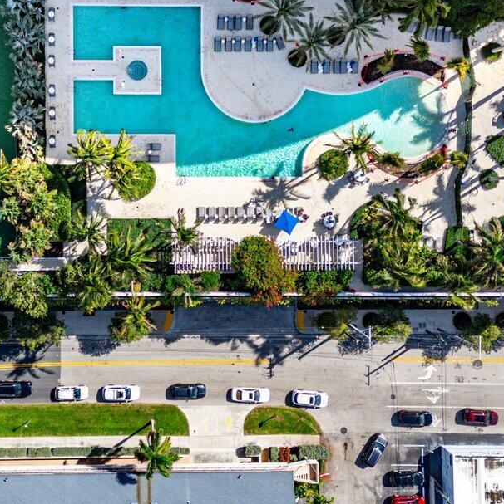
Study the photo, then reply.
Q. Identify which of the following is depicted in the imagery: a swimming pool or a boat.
swimming pool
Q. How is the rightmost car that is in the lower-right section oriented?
from side to side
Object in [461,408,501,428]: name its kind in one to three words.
car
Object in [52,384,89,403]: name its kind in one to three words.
car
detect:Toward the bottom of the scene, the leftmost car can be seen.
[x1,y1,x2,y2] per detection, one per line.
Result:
[0,380,32,399]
